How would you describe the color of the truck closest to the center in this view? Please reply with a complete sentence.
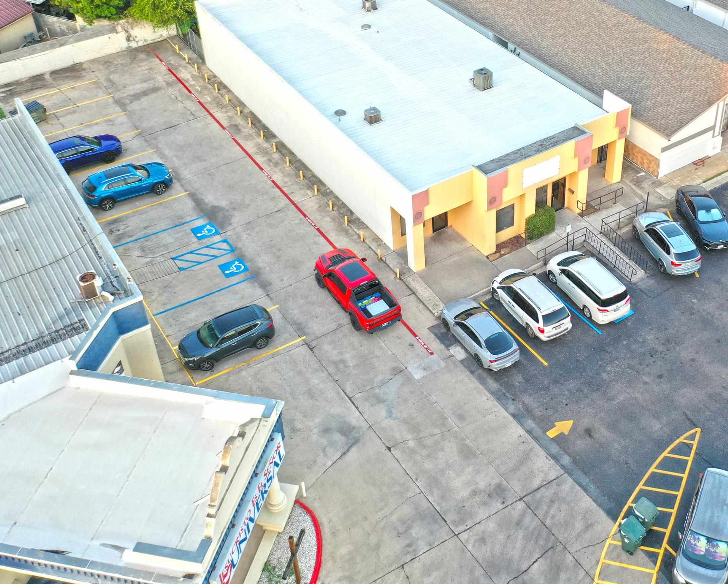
The truck closest to the center is red.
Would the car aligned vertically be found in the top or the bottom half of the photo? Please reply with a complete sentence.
Seen from above, the car aligned vertically lies in the bottom half of the view.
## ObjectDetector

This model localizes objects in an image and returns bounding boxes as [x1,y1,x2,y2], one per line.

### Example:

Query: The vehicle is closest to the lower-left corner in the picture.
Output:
[174,301,280,373]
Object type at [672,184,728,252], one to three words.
car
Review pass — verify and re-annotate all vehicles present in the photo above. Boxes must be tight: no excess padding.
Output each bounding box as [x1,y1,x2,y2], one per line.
[542,250,633,327]
[630,208,703,281]
[50,124,144,170]
[77,161,177,213]
[664,466,728,584]
[174,301,280,373]
[489,270,579,351]
[672,184,728,252]
[309,245,407,337]
[440,300,528,381]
